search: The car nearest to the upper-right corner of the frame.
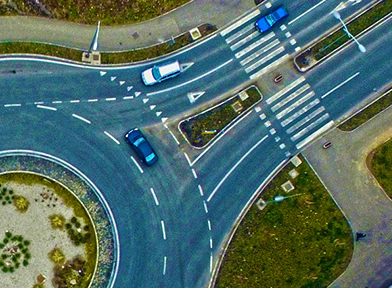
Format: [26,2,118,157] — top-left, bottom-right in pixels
[254,3,290,33]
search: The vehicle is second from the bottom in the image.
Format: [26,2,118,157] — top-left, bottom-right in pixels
[141,60,183,88]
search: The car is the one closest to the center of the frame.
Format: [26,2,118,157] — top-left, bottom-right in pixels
[125,128,159,167]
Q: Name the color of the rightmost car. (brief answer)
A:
blue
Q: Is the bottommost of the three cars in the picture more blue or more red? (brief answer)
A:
blue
